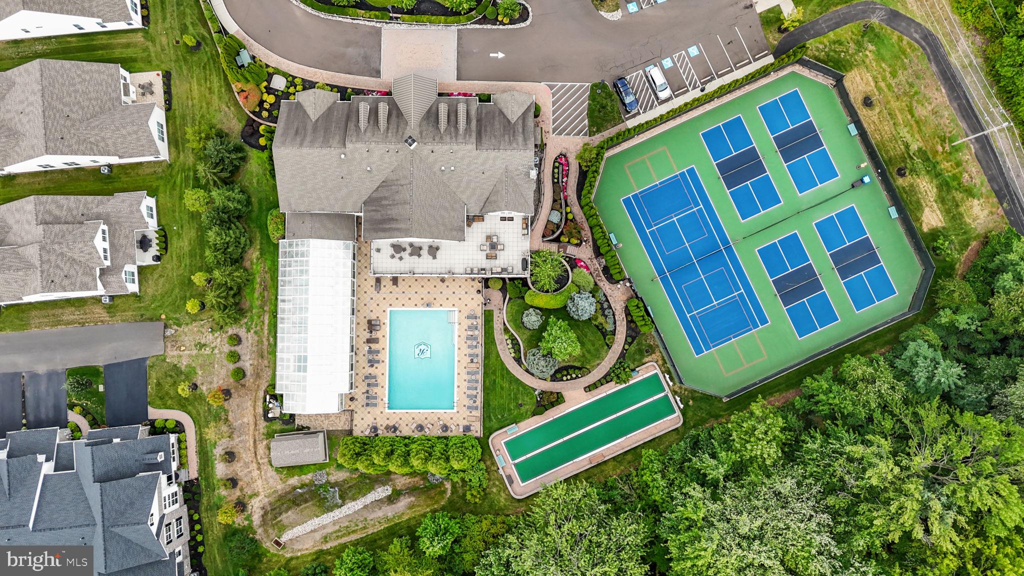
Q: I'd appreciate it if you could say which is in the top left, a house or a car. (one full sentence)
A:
It is a house that can be seen in the top left.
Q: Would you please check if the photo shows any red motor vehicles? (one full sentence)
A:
No, the frame has no red motor vehicle in it.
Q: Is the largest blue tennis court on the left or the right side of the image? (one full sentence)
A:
You can find the largest blue tennis court on the right side of the picture.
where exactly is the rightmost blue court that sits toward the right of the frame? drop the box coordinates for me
[813,204,898,313]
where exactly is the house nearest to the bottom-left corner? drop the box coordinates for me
[0,425,195,576]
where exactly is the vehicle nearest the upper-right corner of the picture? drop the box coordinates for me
[647,65,670,100]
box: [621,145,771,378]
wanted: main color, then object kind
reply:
blue tennis court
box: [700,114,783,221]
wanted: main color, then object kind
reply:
blue sports court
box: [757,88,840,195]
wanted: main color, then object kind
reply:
blue sports court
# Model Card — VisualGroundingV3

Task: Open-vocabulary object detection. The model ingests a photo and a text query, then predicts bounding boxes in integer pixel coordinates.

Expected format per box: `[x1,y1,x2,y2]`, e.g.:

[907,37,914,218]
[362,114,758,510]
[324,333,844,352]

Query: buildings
[0,425,195,576]
[0,191,159,304]
[0,0,144,36]
[0,59,170,174]
[272,73,541,245]
[271,429,330,467]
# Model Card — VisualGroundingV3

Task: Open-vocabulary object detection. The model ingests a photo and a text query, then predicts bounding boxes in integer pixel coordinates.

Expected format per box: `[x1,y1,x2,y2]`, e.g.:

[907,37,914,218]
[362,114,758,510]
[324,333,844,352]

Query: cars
[647,65,670,100]
[615,78,638,113]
